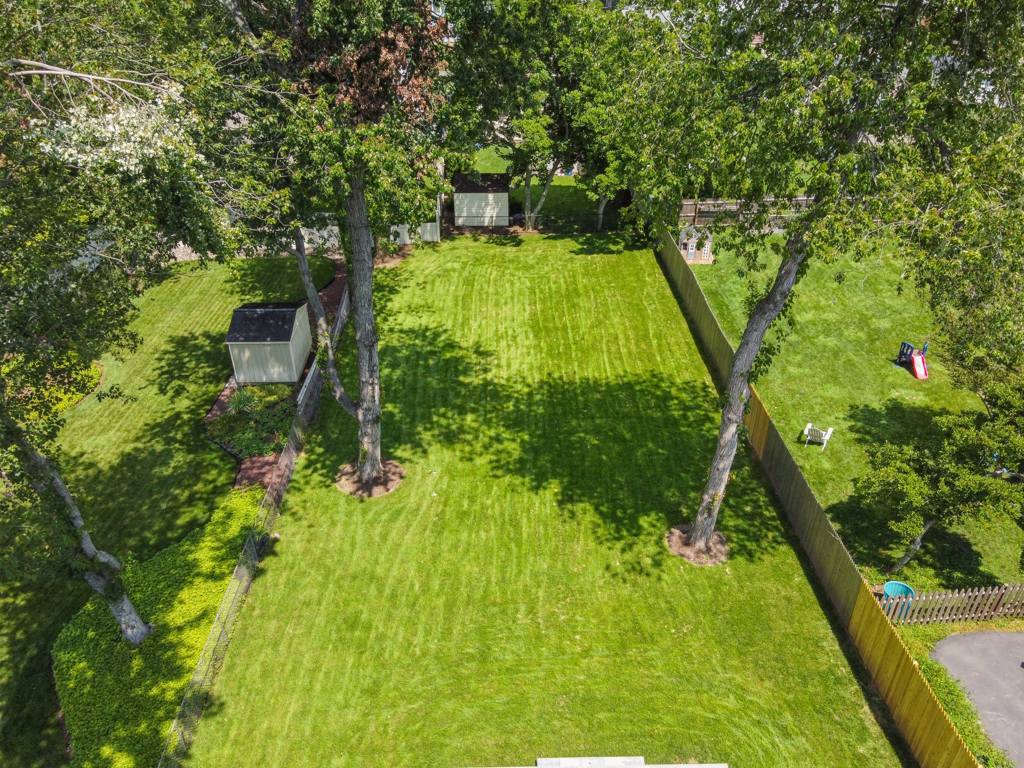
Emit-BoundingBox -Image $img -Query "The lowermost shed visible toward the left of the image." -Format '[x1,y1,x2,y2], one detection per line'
[226,301,316,381]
